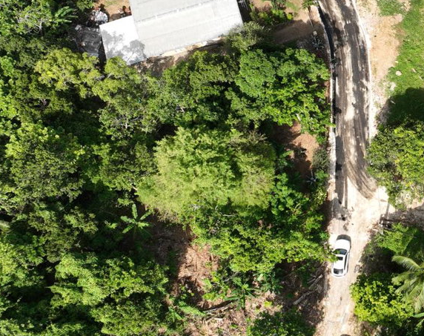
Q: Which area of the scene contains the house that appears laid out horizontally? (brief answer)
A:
top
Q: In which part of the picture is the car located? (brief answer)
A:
bottom right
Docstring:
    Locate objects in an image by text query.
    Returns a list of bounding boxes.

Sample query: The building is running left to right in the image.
[95,0,248,68]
